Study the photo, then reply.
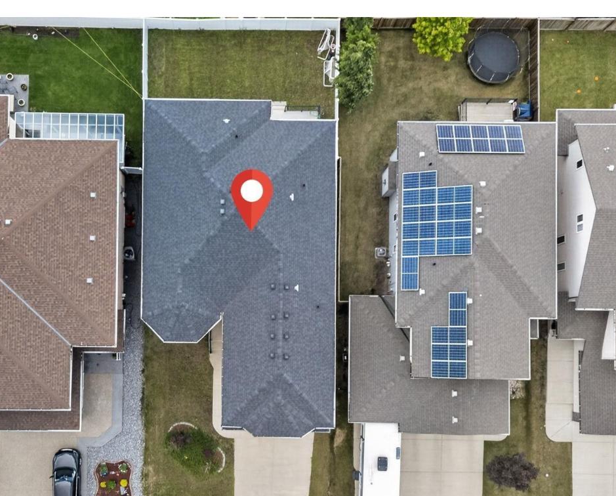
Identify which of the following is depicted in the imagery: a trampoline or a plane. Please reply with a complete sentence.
There is a trampoline in the scene.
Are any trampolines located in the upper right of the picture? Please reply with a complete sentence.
Yes, the scene does show a trampoline in the upper right of the picture.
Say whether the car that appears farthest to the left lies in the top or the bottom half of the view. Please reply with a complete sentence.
The bottom half of the photo is where the car that appears farthest to the left is.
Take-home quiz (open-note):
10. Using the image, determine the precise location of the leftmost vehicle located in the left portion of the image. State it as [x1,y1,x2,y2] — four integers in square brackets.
[48,447,81,496]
